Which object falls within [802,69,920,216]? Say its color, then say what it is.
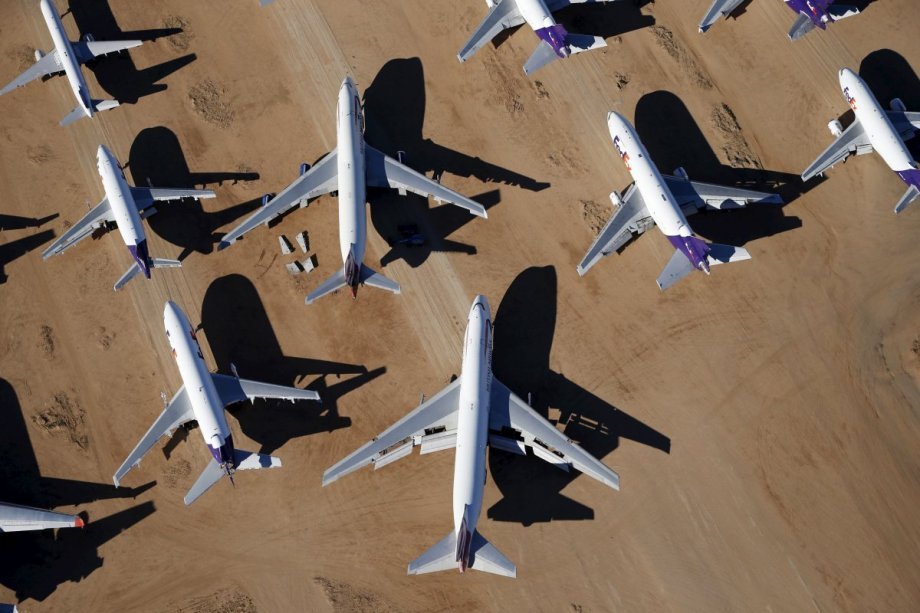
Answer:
white airplane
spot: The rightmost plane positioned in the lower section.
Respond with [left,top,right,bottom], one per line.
[323,292,617,577]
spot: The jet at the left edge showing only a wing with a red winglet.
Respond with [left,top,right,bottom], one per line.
[0,502,81,532]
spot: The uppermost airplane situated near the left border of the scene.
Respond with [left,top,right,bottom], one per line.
[2,0,143,127]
